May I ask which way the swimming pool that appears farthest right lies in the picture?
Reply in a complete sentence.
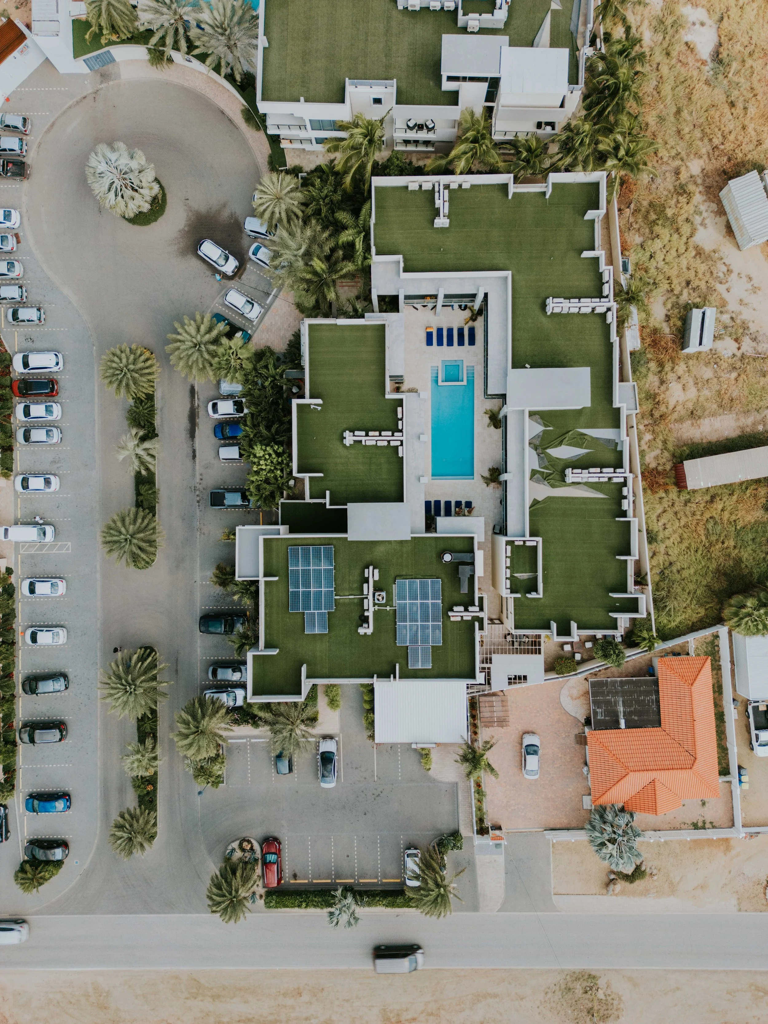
I'd say the swimming pool that appears farthest right is aligned from top to bottom in the picture.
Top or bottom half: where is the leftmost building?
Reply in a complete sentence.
The leftmost building is in the top half of the image.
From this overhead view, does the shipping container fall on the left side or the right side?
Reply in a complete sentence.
It is on the right.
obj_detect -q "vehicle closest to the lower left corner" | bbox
[0,920,26,943]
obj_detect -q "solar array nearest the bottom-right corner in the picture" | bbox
[395,580,442,668]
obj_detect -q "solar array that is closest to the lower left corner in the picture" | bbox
[288,546,335,633]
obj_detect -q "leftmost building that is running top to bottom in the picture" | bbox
[0,8,45,105]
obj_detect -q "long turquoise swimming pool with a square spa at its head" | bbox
[431,358,474,479]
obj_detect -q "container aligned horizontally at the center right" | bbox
[674,445,768,490]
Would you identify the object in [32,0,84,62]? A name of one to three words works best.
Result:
building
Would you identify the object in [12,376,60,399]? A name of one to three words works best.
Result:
car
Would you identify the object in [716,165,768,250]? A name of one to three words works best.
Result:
shed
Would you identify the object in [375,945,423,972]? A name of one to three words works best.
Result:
vehicle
